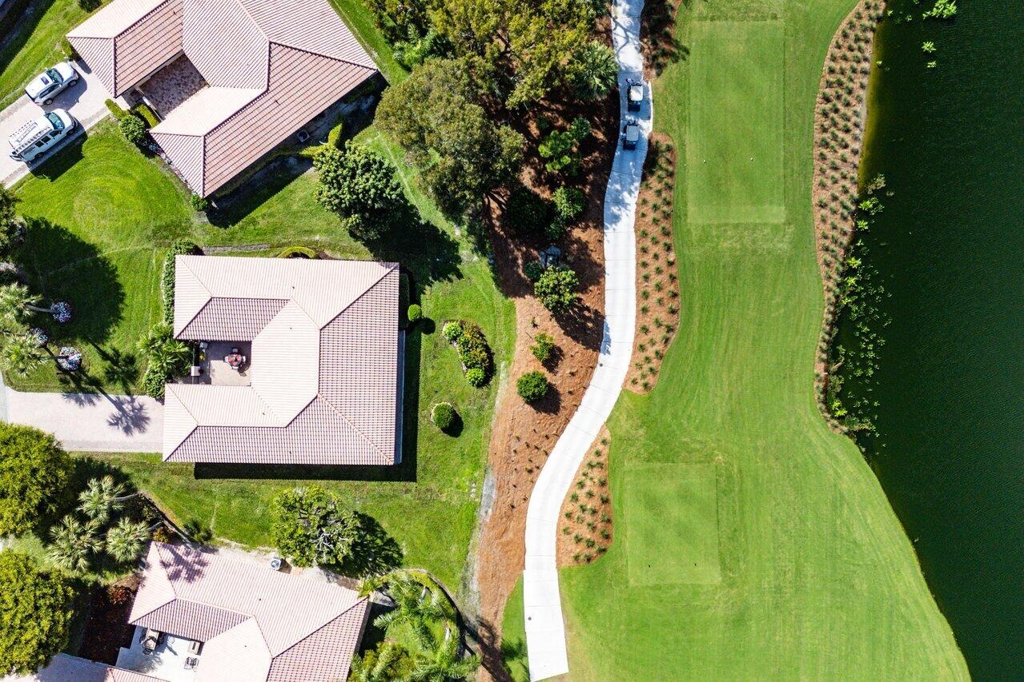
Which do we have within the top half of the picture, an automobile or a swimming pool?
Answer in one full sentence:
You can see an automobile within the top half of the picture.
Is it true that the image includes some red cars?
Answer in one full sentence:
No, I can see no red car in this picture.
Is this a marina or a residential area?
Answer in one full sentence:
This image shows a residential area.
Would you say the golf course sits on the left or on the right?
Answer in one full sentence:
The golf course appears in the right half of the scene.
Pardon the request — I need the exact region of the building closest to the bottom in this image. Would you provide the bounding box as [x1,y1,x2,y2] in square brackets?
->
[105,539,366,682]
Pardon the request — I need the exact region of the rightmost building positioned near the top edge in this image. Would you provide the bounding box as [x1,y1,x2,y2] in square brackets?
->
[68,0,379,197]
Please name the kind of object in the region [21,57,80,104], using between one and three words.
car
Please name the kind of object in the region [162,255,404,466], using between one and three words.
house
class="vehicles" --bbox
[622,123,639,152]
[625,84,643,113]
[3,104,80,163]
[21,57,80,104]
